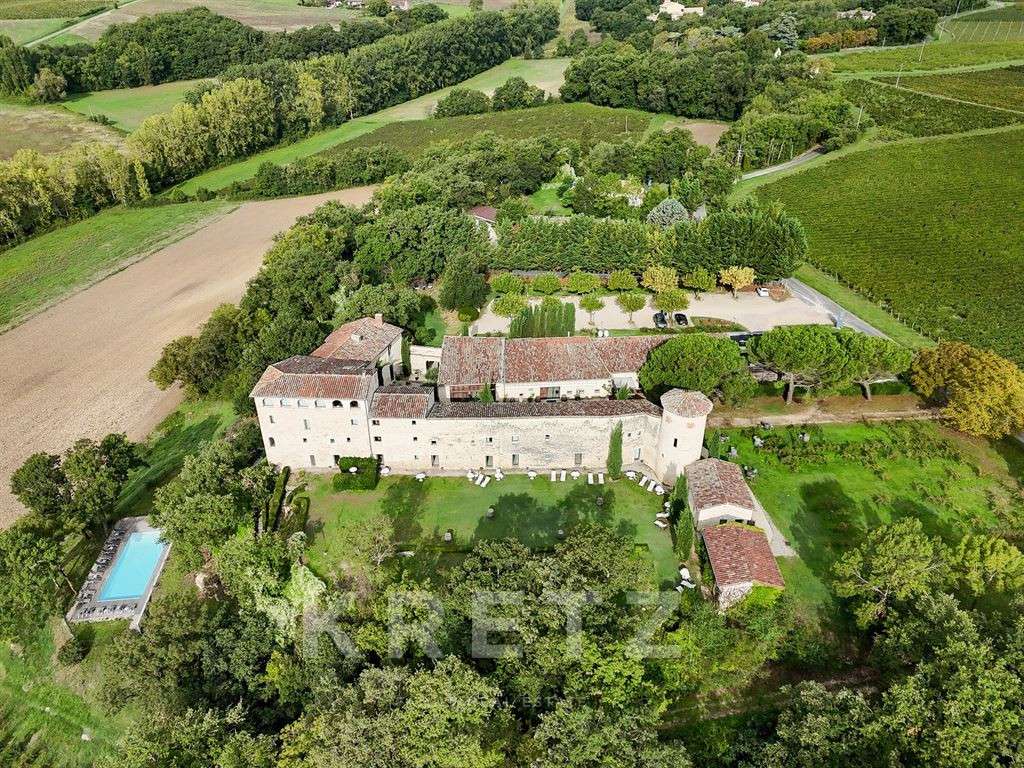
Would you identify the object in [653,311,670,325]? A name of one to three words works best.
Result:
car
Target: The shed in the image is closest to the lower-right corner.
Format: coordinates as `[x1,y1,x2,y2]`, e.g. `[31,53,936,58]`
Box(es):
[701,522,784,602]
